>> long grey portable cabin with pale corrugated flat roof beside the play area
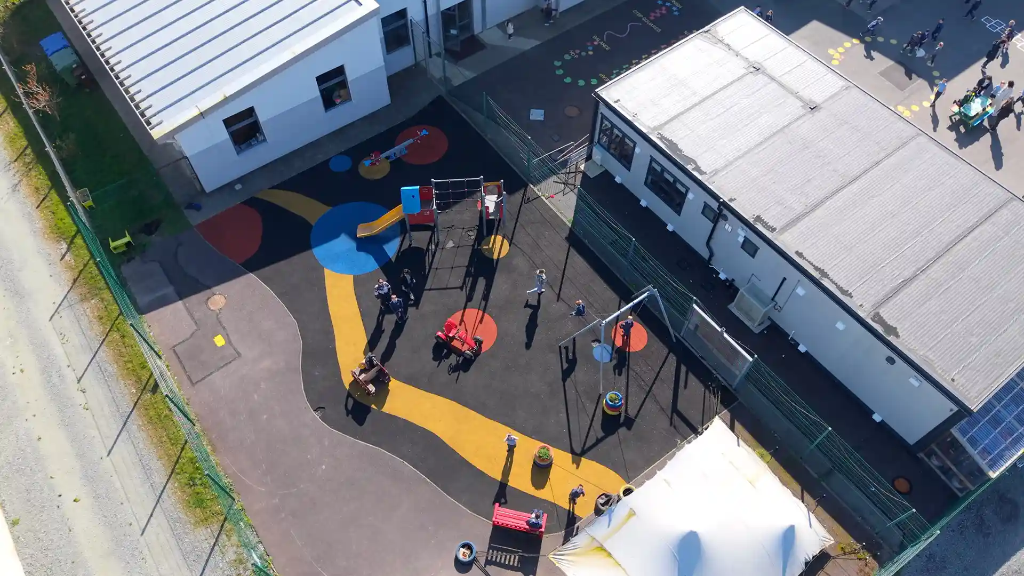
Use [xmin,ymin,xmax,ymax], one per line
[588,5,1024,440]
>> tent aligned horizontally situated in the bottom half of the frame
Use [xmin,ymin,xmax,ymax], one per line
[476,392,863,576]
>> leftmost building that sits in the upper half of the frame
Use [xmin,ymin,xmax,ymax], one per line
[55,0,390,192]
